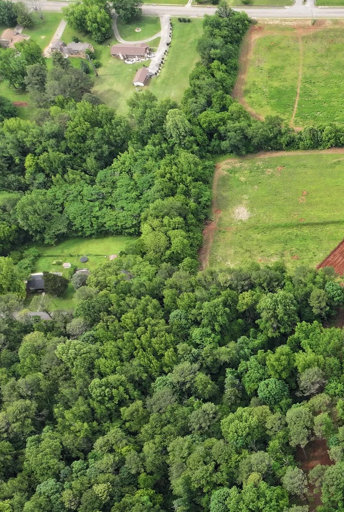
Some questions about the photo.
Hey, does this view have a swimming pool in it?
No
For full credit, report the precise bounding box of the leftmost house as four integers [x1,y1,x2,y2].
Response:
[0,29,32,51]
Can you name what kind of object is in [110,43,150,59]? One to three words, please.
house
